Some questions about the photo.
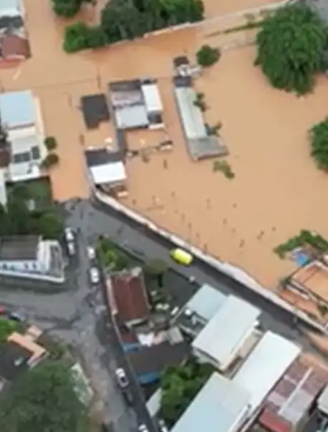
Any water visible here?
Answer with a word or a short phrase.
Yes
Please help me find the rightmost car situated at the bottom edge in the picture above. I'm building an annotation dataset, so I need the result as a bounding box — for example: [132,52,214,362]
[154,416,171,432]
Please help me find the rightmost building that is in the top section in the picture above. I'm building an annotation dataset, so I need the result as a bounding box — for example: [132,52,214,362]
[174,56,228,165]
